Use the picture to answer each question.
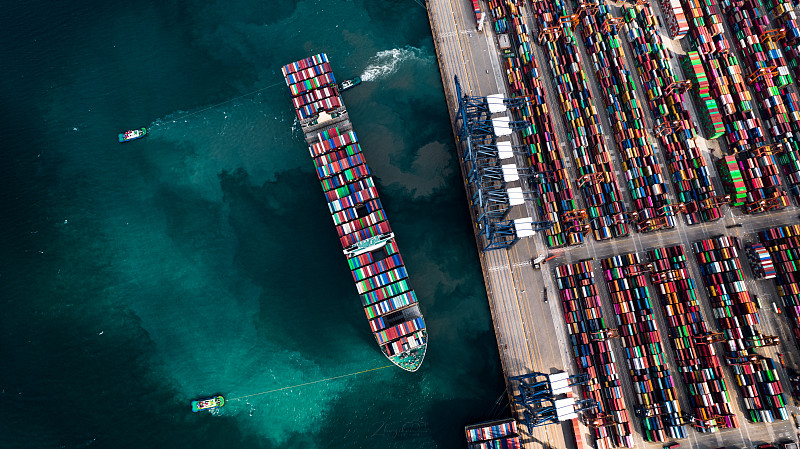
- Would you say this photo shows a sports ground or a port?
port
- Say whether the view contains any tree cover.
No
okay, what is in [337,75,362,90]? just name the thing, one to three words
boat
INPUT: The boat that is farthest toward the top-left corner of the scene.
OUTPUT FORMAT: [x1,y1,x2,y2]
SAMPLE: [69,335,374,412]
[116,126,146,141]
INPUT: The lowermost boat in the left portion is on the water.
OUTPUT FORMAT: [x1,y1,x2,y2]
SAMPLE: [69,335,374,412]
[191,395,223,412]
